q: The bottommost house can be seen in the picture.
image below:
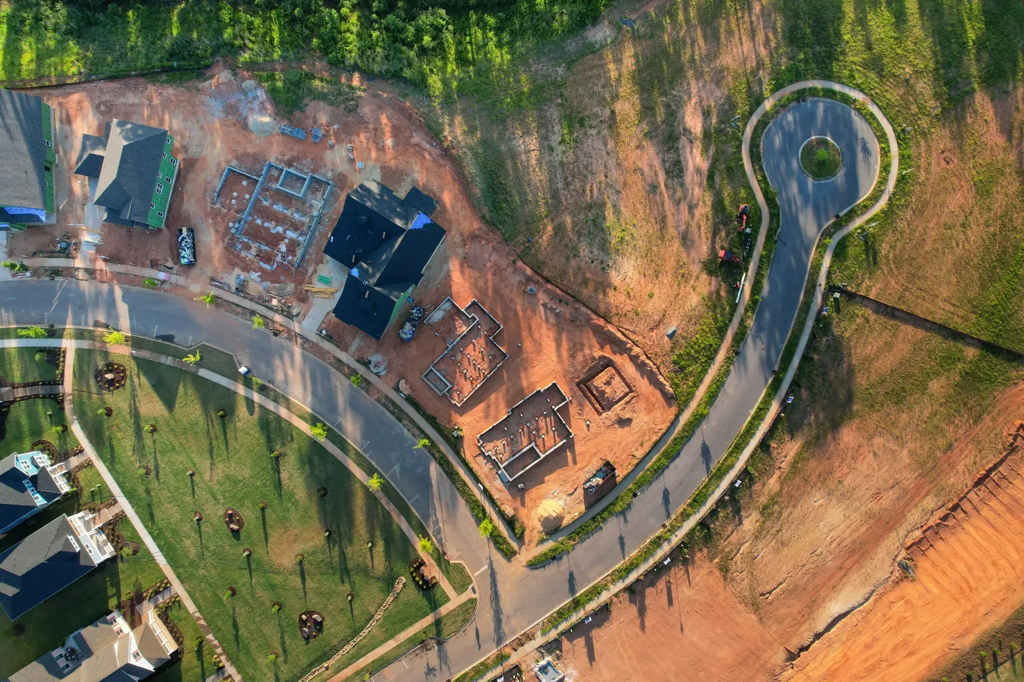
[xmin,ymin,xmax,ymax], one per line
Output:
[5,608,178,682]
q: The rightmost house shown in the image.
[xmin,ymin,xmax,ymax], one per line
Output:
[324,179,446,340]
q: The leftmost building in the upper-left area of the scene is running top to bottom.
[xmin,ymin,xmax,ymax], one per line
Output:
[0,90,59,230]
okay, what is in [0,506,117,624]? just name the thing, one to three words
house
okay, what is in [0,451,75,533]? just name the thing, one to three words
house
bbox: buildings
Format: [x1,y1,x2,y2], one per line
[0,506,117,624]
[5,608,178,682]
[74,118,181,230]
[0,451,75,533]
[324,179,446,340]
[0,90,59,230]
